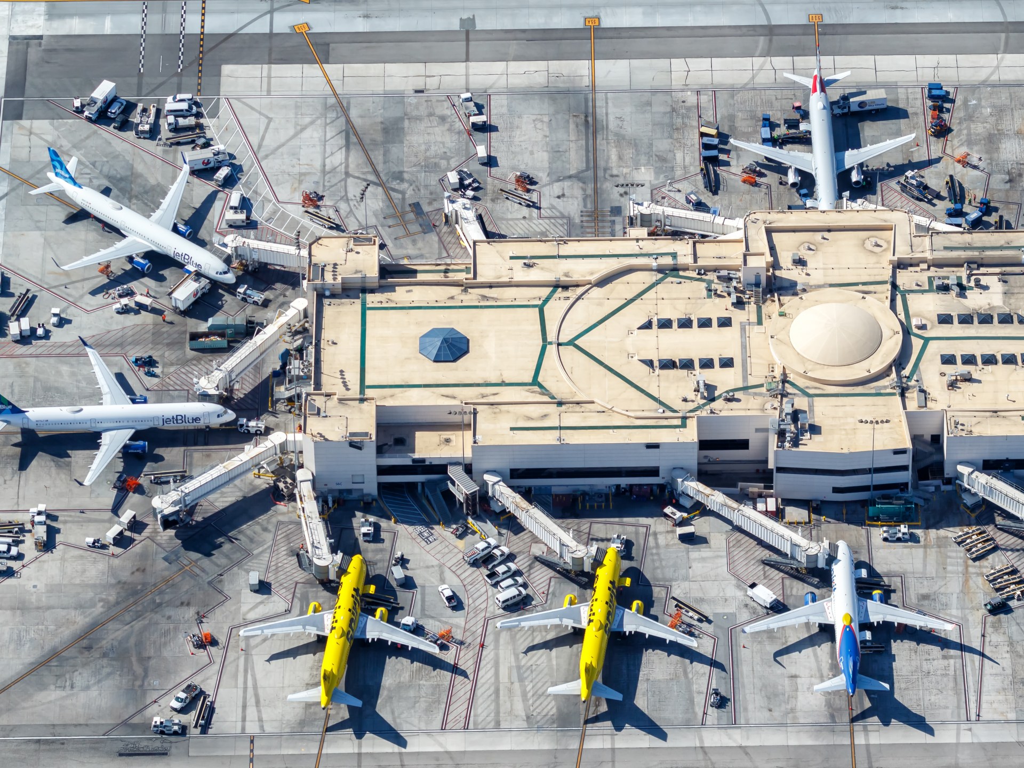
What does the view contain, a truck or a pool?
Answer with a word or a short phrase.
truck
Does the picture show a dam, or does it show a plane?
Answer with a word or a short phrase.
plane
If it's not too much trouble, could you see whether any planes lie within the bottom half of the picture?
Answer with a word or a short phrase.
Yes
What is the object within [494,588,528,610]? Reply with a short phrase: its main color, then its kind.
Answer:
white vehicle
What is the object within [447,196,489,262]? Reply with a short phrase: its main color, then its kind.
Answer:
white jet bridge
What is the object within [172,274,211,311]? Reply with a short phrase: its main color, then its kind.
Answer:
white truck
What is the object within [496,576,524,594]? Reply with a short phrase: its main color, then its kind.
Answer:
white car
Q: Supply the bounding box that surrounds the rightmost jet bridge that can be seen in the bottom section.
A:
[959,466,1024,525]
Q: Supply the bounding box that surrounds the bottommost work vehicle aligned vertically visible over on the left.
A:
[194,692,209,730]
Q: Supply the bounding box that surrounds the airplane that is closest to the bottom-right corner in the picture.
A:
[741,542,956,698]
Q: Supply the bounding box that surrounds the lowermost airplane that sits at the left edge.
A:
[0,335,237,485]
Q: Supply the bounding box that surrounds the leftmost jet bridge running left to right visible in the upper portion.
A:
[210,235,309,281]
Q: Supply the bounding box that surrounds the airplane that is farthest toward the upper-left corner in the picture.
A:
[29,150,236,284]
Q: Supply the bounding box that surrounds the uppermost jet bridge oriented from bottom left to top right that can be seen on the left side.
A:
[202,300,308,403]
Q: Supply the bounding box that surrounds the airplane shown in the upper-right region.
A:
[729,51,916,211]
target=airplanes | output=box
[237,556,441,711]
[29,150,236,284]
[741,542,956,698]
[496,549,699,704]
[729,51,916,211]
[0,335,237,485]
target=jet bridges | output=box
[631,203,744,239]
[296,471,352,580]
[202,300,308,403]
[447,196,489,262]
[210,235,309,281]
[486,472,604,577]
[672,466,841,572]
[959,466,1024,525]
[152,434,304,528]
